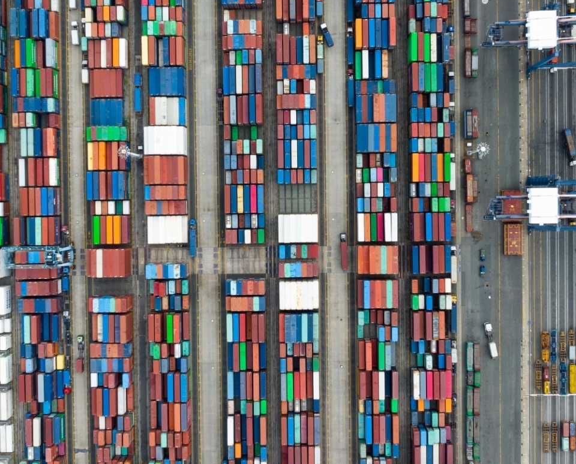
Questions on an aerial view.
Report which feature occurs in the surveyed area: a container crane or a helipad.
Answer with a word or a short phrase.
container crane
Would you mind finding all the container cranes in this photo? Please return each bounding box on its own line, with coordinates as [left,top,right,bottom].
[470,1,576,85]
[3,236,74,271]
[472,166,576,240]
